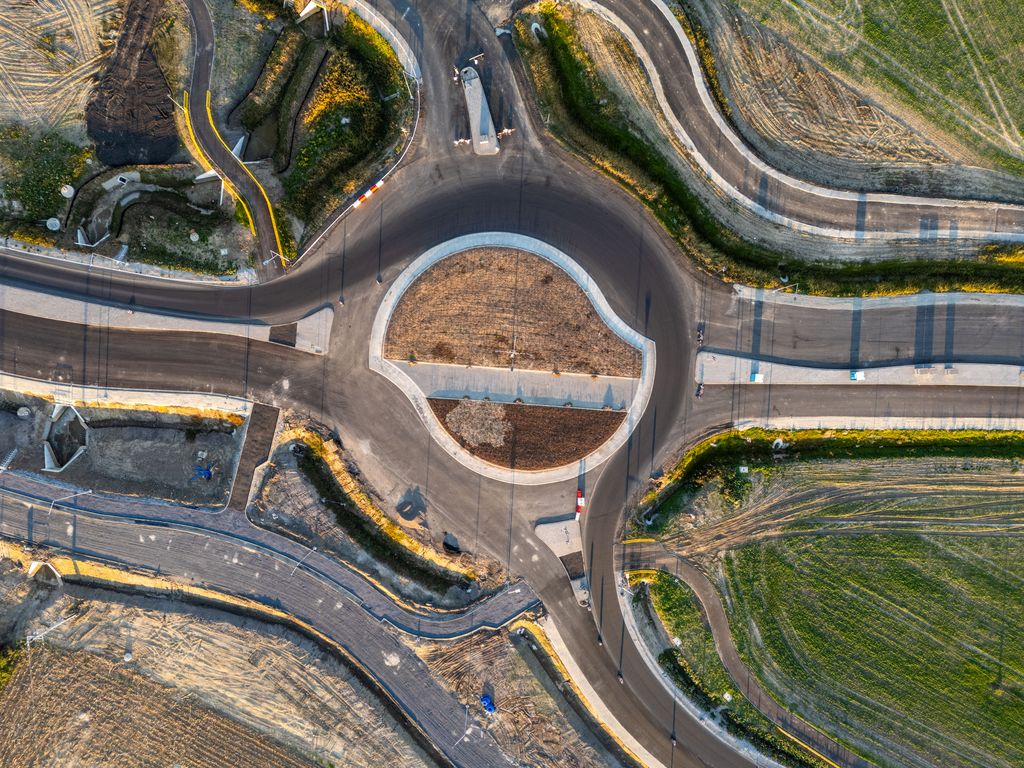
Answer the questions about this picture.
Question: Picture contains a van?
No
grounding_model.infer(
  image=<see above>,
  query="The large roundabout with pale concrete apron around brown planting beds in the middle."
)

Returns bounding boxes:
[286,107,734,568]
